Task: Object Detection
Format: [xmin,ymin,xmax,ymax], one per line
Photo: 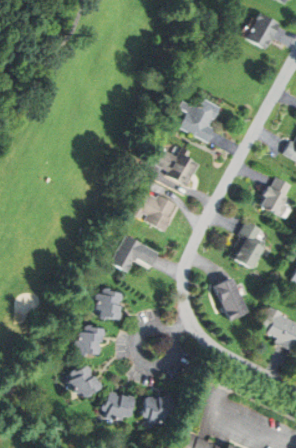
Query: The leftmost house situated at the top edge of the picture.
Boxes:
[248,14,282,48]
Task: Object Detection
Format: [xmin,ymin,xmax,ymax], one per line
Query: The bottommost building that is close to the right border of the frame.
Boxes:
[262,309,296,349]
